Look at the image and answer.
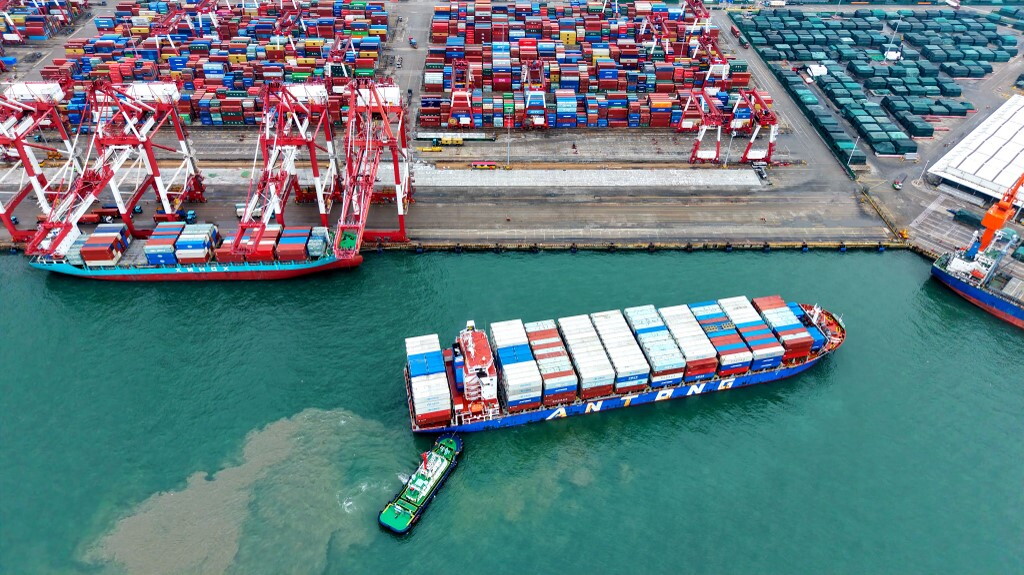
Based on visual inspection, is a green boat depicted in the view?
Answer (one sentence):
Yes, I can see a green boat in this picture.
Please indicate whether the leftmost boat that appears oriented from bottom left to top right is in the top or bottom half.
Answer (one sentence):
Seen from above, the leftmost boat that appears oriented from bottom left to top right lies in the bottom half of the view.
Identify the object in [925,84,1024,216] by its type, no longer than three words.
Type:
building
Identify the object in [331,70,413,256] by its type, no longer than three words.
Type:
container crane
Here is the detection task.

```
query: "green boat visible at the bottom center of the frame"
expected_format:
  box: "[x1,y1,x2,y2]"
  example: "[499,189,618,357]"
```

[376,426,470,534]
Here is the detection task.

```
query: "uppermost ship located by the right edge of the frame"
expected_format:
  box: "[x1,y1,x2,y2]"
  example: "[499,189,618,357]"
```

[932,234,1024,330]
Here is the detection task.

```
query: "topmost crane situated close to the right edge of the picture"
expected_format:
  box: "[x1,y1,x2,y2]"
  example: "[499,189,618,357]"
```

[957,161,1024,261]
